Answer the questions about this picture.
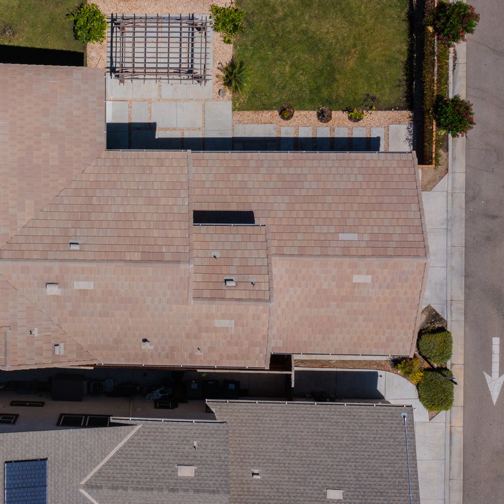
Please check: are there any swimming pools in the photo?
No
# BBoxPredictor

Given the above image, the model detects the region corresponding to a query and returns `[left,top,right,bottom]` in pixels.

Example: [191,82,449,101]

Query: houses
[0,61,434,376]
[0,385,423,504]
